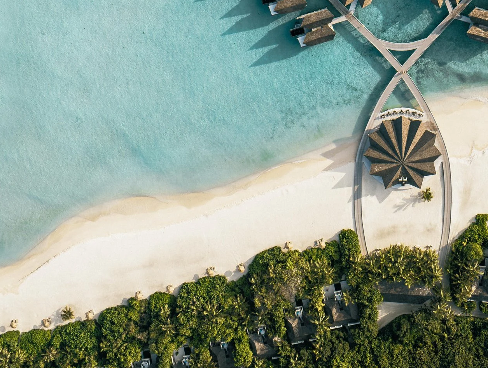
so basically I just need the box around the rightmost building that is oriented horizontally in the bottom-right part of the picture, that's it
[369,274,435,302]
